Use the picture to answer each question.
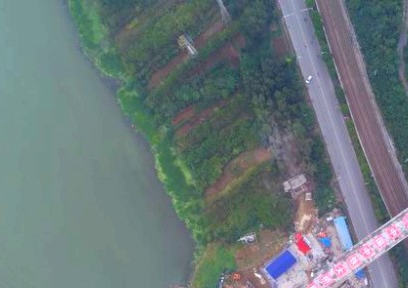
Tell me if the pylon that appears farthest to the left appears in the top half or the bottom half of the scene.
top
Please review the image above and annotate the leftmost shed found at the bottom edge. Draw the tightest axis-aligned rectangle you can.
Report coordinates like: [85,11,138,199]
[268,251,294,277]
